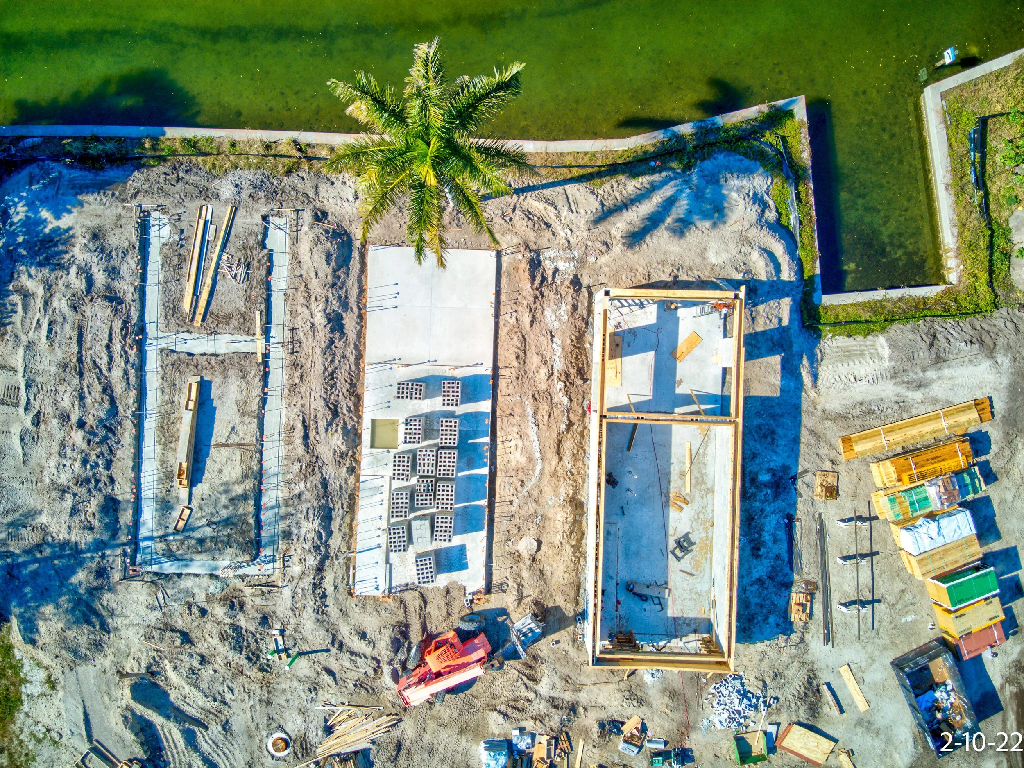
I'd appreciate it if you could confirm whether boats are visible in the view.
No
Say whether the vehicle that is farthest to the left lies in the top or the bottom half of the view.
bottom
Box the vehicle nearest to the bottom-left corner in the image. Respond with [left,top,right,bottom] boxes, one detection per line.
[397,609,545,712]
